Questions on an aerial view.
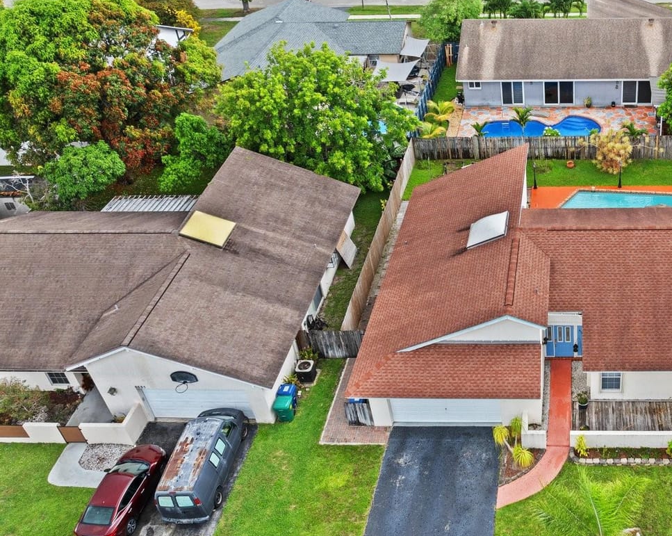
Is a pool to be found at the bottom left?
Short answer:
No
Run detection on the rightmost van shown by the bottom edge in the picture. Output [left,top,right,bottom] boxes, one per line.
[143,414,244,531]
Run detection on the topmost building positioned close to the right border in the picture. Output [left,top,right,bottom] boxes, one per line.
[458,0,672,105]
